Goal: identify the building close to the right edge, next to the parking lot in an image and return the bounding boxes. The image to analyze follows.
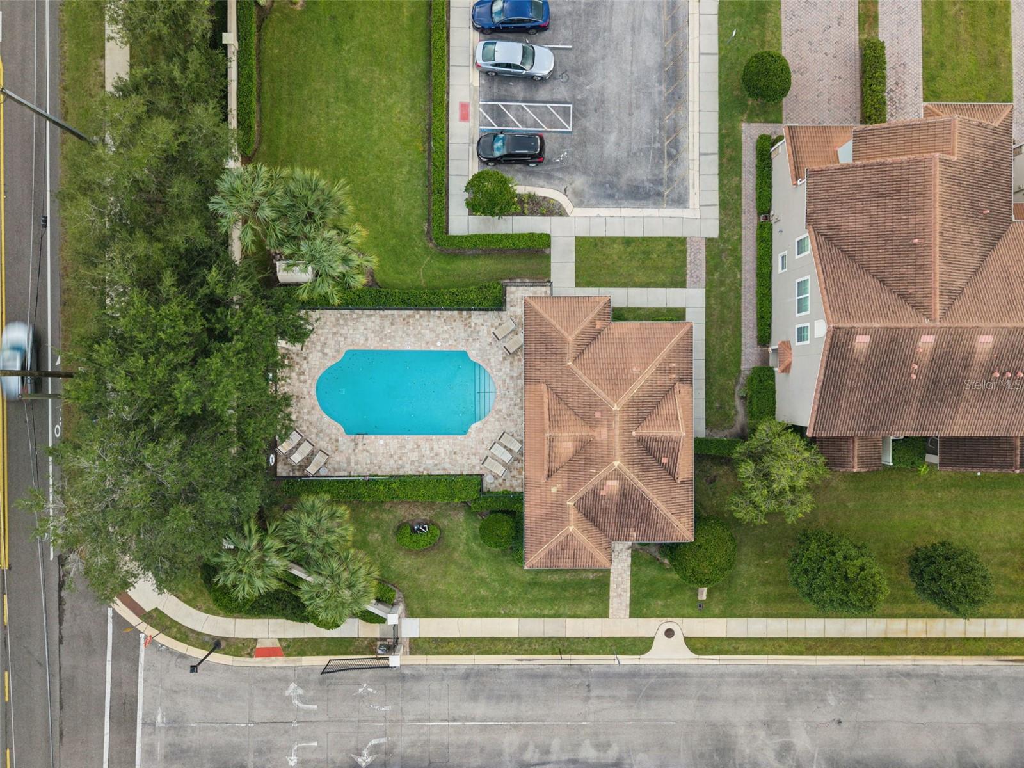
[767,101,1024,476]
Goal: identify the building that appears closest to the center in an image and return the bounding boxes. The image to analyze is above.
[522,294,696,570]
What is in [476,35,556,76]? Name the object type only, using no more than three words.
car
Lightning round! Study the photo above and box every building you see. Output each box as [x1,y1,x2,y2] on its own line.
[767,101,1024,476]
[522,294,696,570]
